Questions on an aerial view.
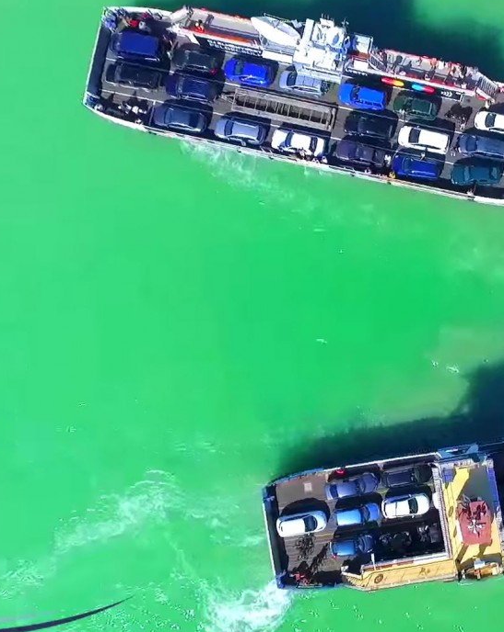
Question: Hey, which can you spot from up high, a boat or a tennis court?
boat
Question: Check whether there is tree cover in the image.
No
